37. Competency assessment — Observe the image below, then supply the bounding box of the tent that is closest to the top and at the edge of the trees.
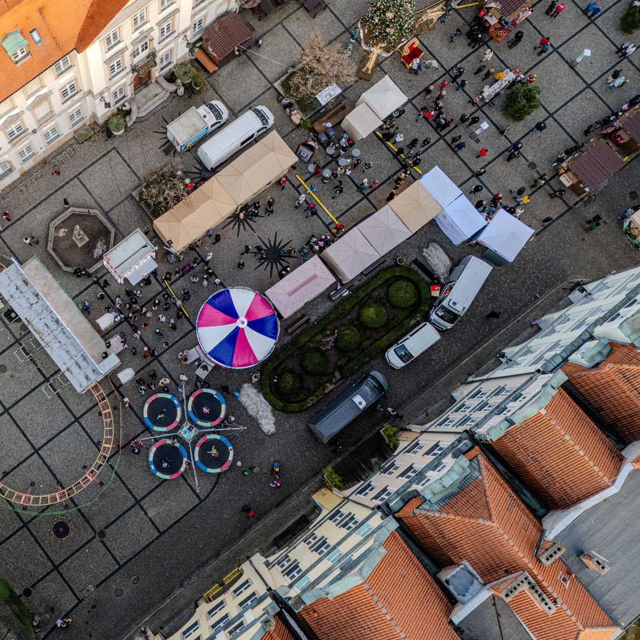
[359,75,408,122]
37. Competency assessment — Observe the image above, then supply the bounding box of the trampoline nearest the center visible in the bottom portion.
[187,388,225,427]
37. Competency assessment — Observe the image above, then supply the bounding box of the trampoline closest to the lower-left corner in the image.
[149,439,187,479]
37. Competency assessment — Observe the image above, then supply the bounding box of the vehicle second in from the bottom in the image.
[383,322,446,372]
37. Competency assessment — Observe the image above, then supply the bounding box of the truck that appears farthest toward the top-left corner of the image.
[161,97,233,158]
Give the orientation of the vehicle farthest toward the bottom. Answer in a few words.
at an angle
